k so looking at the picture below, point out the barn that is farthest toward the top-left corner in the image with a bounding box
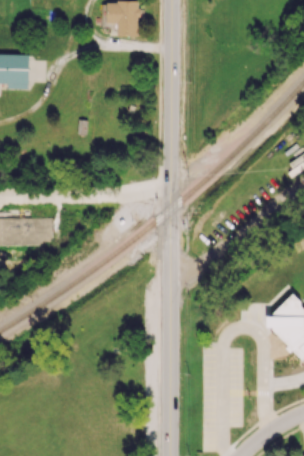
[0,56,29,96]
